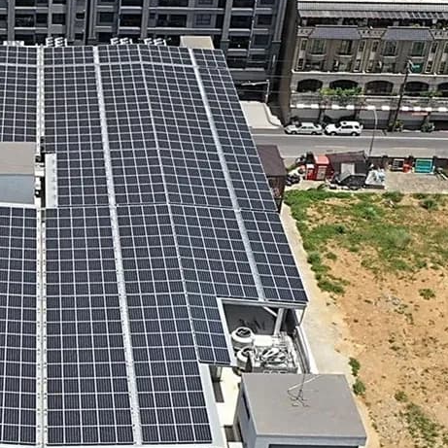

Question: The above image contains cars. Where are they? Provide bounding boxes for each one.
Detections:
[285,119,324,134]
[325,118,362,135]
